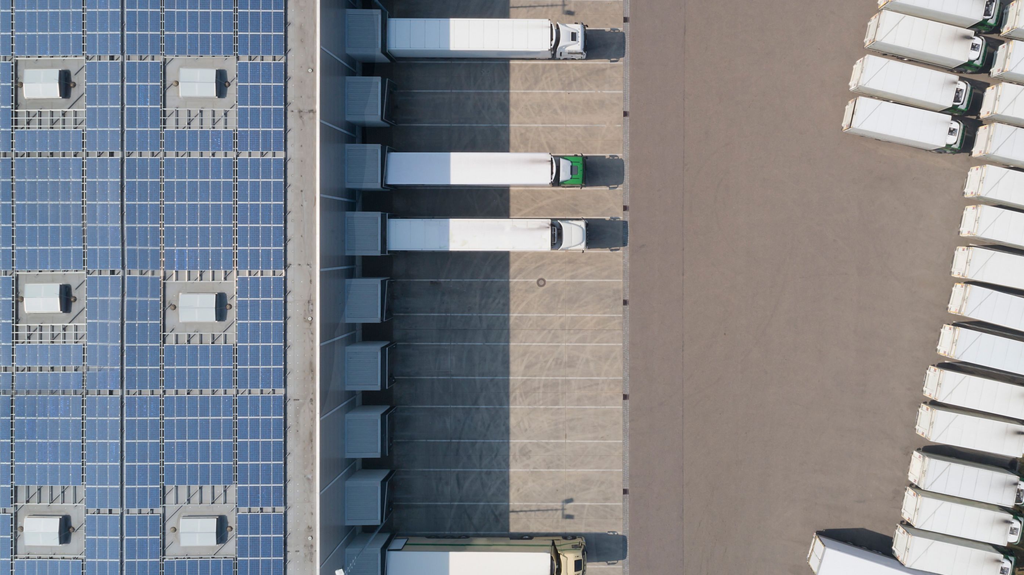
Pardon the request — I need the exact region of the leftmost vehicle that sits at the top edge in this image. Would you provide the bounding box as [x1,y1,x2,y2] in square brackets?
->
[388,18,590,61]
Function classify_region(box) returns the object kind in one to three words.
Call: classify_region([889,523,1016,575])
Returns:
truck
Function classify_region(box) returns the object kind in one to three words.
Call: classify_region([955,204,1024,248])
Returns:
truck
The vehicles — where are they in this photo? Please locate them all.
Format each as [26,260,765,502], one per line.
[862,10,989,74]
[995,0,1024,42]
[889,523,1016,575]
[975,82,1024,128]
[838,96,964,157]
[878,0,1003,34]
[945,282,1024,328]
[984,40,1024,86]
[934,323,1024,373]
[388,534,590,575]
[920,364,1024,417]
[845,54,972,118]
[955,204,1024,248]
[912,402,1024,459]
[897,485,1024,547]
[388,18,590,61]
[948,246,1024,290]
[960,164,1024,209]
[904,449,1024,510]
[388,150,590,189]
[967,123,1024,169]
[388,215,590,254]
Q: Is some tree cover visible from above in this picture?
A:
No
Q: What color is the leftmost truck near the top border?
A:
white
